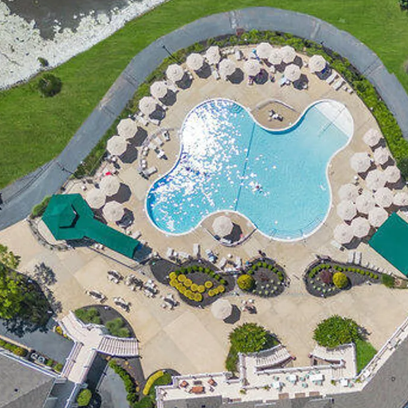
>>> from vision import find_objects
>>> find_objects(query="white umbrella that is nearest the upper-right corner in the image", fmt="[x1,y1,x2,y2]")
[305,51,329,75]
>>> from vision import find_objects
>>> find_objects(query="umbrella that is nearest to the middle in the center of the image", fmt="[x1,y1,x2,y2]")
[212,216,232,237]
